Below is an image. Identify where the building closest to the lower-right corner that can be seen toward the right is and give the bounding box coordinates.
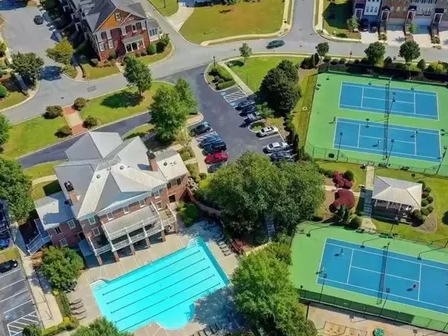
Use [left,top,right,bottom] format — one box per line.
[370,175,423,219]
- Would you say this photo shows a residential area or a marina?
residential area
